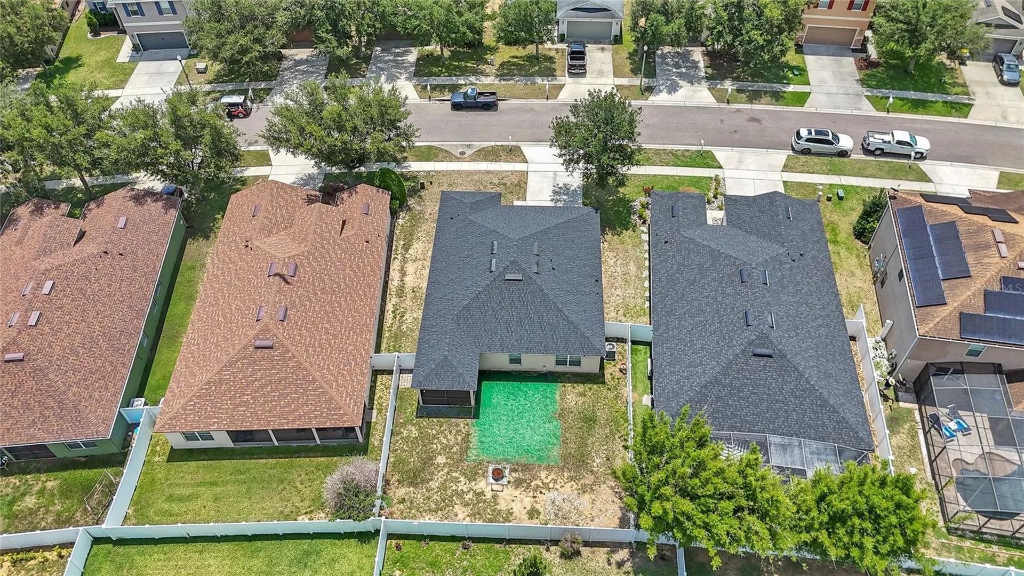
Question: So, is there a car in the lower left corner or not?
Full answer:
No, no car is visible in the lower left corner.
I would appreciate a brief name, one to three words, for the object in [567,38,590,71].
truck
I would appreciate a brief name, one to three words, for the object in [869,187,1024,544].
house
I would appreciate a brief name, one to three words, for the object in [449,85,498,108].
truck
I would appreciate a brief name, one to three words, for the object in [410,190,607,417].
house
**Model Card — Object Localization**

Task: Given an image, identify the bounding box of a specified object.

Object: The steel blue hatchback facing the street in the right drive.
[989,53,1024,85]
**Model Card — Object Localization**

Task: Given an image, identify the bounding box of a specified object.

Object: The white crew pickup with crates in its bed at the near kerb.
[867,133,935,161]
